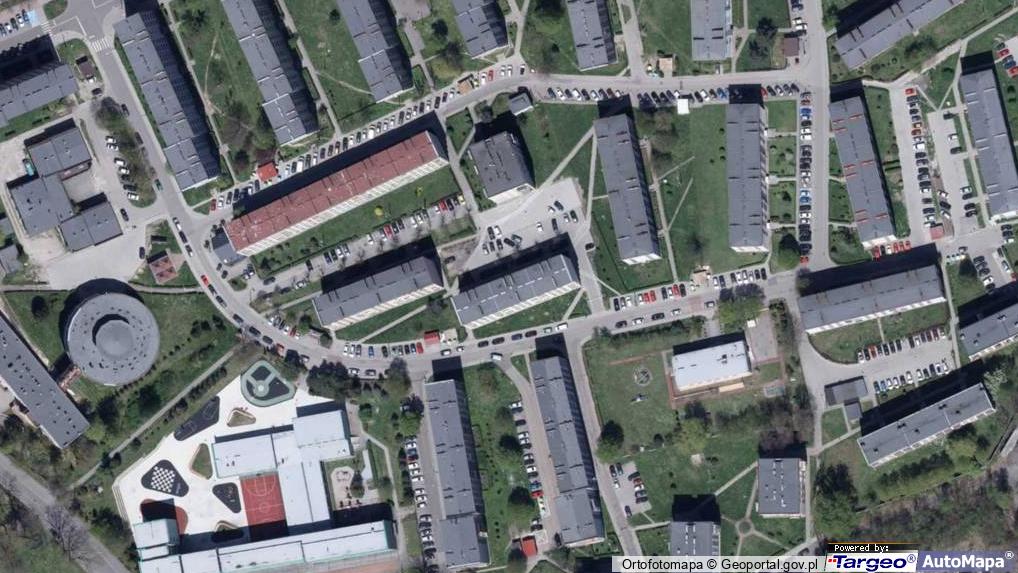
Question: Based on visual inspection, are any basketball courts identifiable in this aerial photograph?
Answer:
Yes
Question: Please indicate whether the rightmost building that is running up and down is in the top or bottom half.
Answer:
top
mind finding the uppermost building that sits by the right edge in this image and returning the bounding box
[836,0,981,75]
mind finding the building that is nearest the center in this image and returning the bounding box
[450,254,580,330]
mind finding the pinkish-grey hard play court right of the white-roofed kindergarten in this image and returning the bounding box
[751,308,786,386]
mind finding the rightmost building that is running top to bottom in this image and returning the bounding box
[960,68,1018,222]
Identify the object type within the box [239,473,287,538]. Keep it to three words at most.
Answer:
basketball court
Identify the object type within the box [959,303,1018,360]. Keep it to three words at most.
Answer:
building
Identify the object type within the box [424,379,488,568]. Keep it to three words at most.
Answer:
building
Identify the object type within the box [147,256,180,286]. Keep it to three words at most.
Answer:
house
